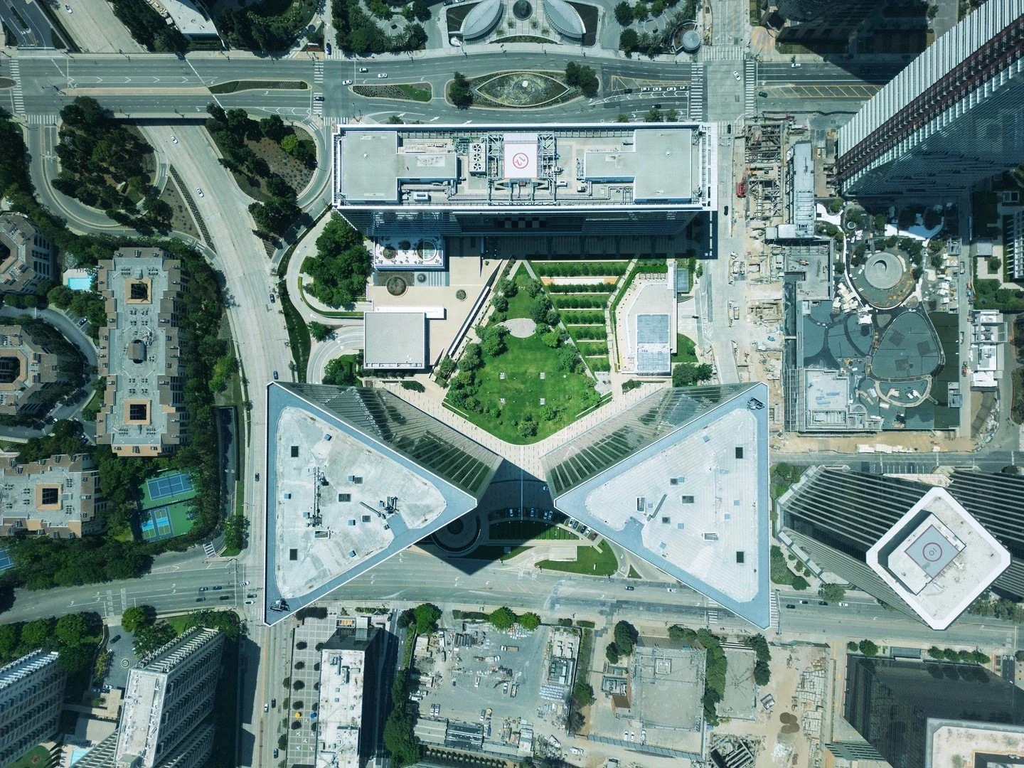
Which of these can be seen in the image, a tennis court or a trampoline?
tennis court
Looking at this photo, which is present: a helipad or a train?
helipad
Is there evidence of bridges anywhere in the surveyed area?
Yes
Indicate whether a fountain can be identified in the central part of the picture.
No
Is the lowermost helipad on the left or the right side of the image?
right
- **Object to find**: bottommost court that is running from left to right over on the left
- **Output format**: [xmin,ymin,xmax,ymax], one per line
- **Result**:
[140,502,203,542]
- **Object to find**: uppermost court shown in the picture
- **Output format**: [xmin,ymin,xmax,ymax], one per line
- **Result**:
[137,467,202,510]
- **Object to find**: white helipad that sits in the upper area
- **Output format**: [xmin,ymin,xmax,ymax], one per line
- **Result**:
[504,133,538,178]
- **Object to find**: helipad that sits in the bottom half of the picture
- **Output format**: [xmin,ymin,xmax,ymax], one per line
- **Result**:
[904,525,959,579]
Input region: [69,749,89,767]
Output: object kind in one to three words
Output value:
swimming pool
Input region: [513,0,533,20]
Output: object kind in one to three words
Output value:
fountain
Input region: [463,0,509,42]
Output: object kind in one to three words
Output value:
building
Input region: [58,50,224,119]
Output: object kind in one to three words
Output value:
bridge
